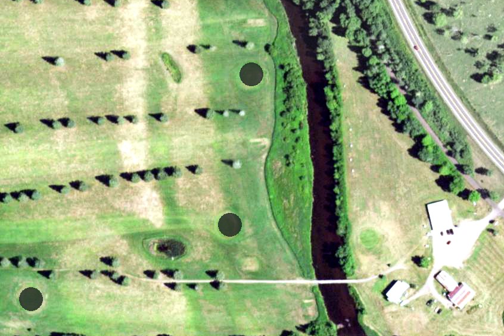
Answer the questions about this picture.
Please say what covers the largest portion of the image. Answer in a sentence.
For the most part, this view shows grass.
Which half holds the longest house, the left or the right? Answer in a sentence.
The longest house appears in the right half of the scene.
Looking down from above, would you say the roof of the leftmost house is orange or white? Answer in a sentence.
The roof of the leftmost house looks white in the image.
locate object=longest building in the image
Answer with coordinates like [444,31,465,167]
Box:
[435,271,480,306]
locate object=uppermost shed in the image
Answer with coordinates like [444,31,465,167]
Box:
[427,201,454,230]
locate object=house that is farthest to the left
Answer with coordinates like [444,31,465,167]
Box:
[385,279,412,302]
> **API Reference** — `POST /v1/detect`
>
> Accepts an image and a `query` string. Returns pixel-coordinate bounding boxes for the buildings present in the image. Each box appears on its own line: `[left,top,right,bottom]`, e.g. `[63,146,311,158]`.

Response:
[427,201,454,230]
[385,279,412,302]
[435,271,480,306]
